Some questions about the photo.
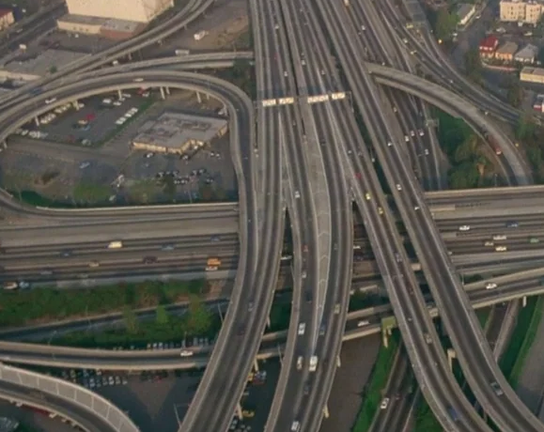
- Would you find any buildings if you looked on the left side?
Yes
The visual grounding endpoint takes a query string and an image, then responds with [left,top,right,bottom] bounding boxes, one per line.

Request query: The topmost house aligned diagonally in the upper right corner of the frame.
[446,2,482,31]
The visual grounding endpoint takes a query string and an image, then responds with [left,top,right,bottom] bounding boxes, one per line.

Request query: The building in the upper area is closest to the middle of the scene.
[134,113,227,151]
